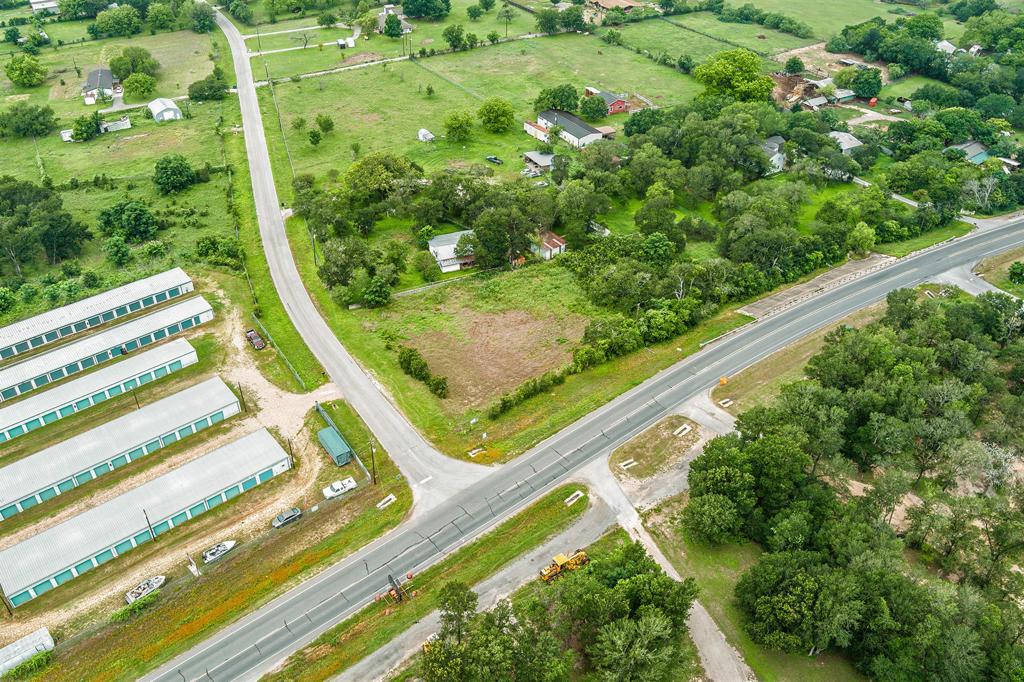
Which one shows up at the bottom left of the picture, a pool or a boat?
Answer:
boat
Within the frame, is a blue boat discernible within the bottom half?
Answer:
No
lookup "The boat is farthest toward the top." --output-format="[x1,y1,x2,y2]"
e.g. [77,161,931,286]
[198,538,241,563]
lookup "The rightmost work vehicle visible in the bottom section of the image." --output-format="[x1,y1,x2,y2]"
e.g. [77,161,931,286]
[544,554,595,587]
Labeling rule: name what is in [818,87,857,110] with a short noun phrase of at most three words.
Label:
barn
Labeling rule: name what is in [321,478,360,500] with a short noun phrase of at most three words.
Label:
truck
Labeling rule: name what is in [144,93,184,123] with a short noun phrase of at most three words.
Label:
shed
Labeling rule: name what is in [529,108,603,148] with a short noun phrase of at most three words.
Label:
building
